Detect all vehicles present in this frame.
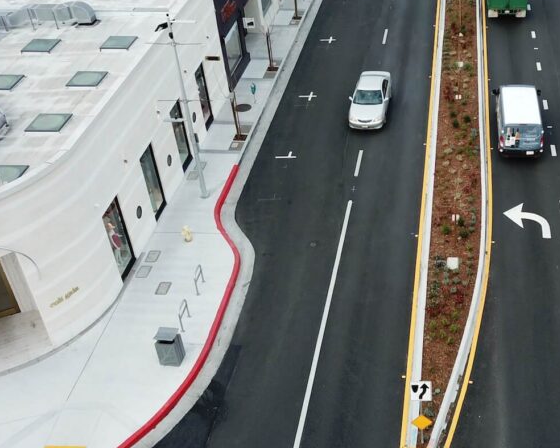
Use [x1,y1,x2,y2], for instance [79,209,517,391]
[487,0,529,20]
[494,85,545,158]
[347,69,393,128]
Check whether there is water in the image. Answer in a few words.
No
